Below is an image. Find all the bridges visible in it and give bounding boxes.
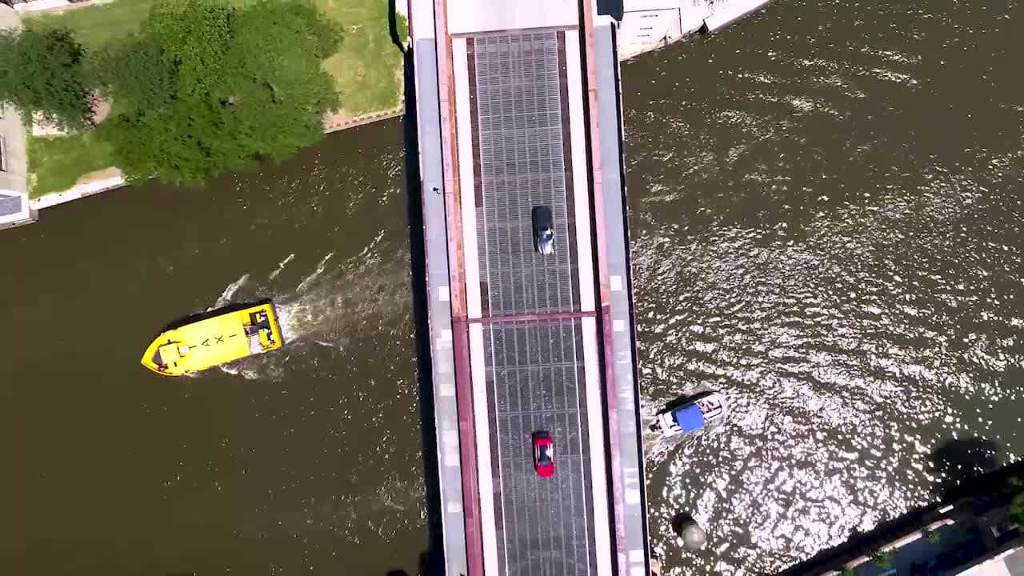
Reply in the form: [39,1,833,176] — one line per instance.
[409,0,653,576]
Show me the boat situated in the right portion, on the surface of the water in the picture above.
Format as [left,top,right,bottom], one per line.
[656,395,725,434]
